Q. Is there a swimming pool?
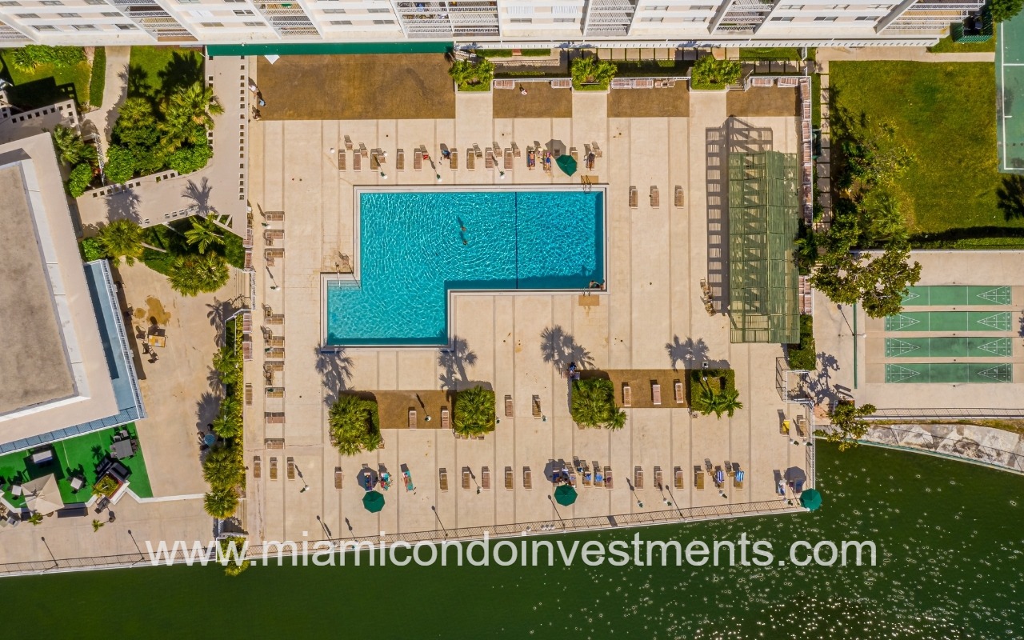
Yes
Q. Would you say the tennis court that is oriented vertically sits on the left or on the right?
right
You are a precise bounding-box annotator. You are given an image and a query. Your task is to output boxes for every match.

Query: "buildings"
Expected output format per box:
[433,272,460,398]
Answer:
[0,132,146,457]
[0,0,1012,52]
[728,147,799,350]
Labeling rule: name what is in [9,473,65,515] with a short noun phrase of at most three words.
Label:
umbrella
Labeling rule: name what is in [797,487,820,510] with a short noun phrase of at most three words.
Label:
umbrella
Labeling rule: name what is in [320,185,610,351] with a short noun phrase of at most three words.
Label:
swimming pool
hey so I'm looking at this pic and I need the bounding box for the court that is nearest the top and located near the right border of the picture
[995,9,1024,173]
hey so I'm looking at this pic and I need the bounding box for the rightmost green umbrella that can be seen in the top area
[554,152,576,175]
